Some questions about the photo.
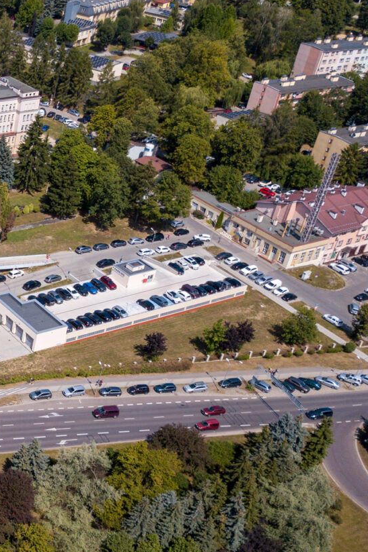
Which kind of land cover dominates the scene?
trees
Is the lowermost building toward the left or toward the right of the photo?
left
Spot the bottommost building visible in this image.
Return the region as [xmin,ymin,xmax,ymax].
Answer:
[0,291,68,351]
